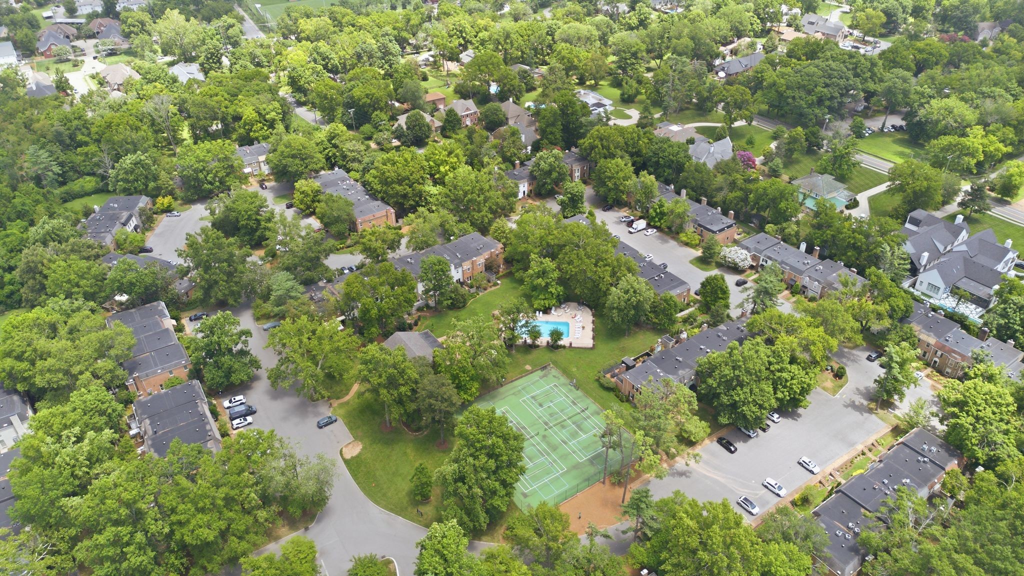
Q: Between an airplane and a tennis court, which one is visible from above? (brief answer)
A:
tennis court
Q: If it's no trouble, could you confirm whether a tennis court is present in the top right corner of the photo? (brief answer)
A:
No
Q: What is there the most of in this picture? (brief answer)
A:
trees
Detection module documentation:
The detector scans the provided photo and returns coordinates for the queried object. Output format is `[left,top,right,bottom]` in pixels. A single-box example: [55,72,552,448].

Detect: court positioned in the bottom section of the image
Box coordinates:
[444,362,643,511]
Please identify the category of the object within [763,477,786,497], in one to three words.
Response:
car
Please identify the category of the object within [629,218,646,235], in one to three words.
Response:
vehicle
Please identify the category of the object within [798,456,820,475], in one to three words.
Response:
car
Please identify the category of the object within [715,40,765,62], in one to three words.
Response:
house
